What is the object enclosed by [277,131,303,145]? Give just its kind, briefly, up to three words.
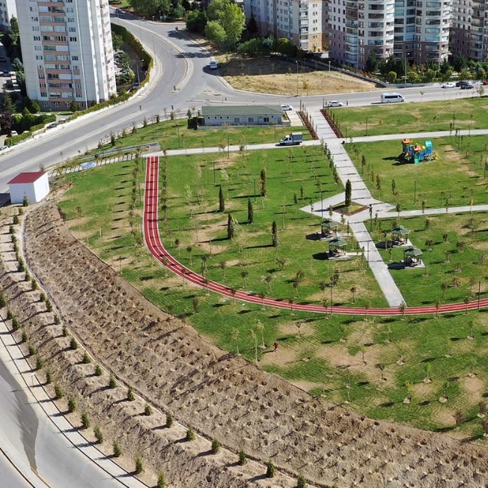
vehicle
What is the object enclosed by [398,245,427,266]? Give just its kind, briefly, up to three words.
gazebo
